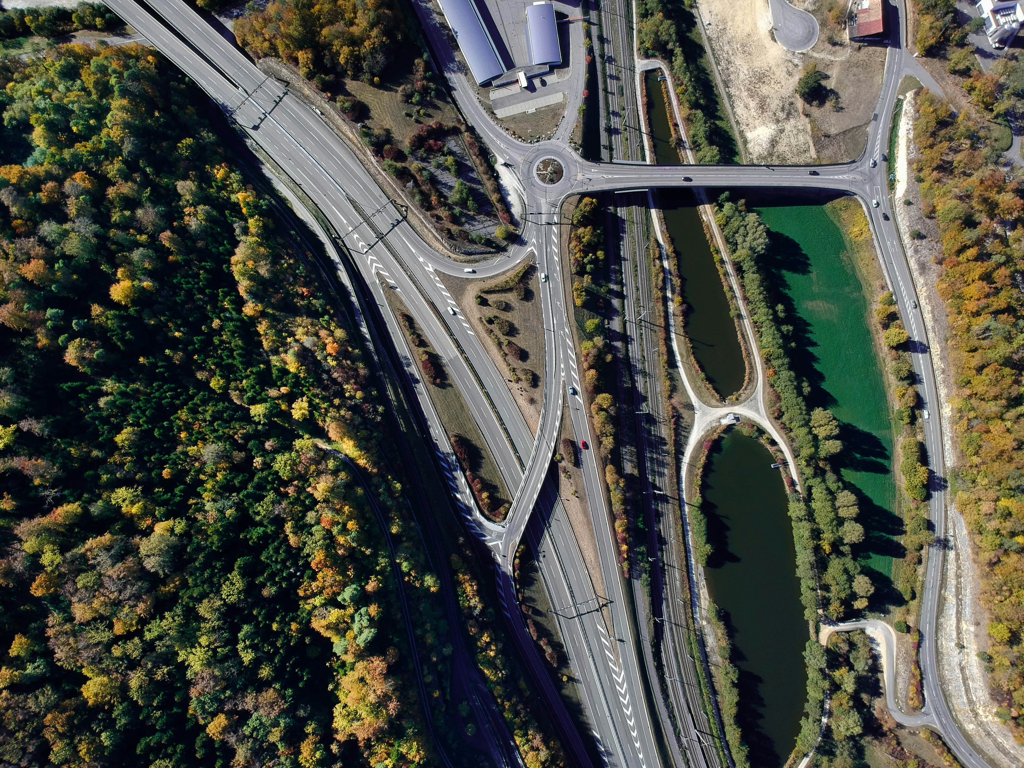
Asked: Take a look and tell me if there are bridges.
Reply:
Yes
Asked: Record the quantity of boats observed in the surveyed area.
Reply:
0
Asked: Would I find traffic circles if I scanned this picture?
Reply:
Yes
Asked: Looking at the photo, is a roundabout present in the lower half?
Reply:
No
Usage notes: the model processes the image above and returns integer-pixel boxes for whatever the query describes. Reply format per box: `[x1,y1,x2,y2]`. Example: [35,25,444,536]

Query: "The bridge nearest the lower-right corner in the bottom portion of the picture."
[505,430,559,536]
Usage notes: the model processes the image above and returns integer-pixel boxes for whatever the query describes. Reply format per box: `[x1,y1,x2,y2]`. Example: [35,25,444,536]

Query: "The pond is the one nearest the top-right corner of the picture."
[646,68,746,399]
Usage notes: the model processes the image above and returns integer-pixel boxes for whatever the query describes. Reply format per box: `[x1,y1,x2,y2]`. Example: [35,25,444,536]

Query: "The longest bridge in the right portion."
[566,145,871,206]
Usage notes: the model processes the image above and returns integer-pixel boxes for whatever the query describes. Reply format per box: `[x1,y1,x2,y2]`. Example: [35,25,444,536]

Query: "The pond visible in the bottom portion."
[701,427,809,768]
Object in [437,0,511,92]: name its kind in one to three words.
building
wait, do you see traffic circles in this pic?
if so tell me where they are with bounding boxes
[518,142,580,196]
